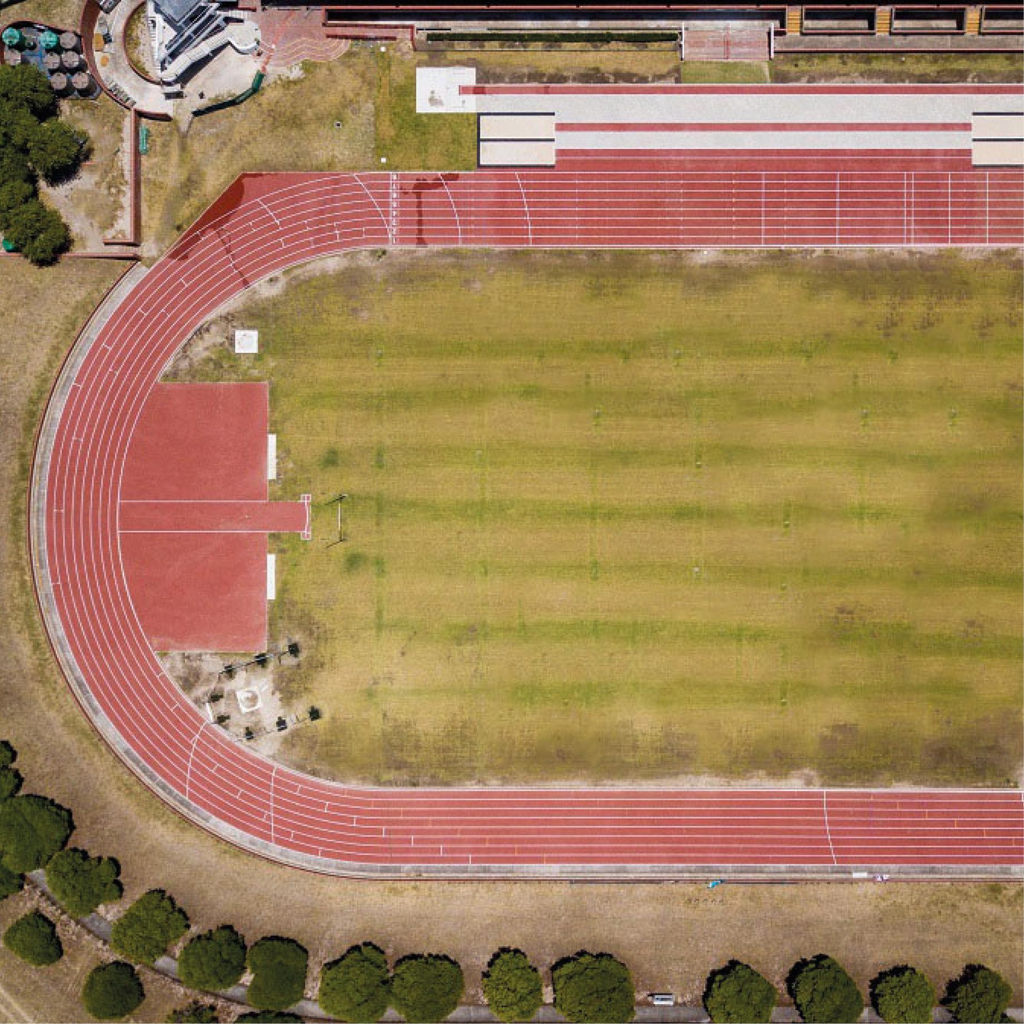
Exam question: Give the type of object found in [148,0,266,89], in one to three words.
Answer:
building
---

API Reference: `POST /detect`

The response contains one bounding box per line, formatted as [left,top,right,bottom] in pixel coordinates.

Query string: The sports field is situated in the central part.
[119,246,1024,788]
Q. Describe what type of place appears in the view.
sports ground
